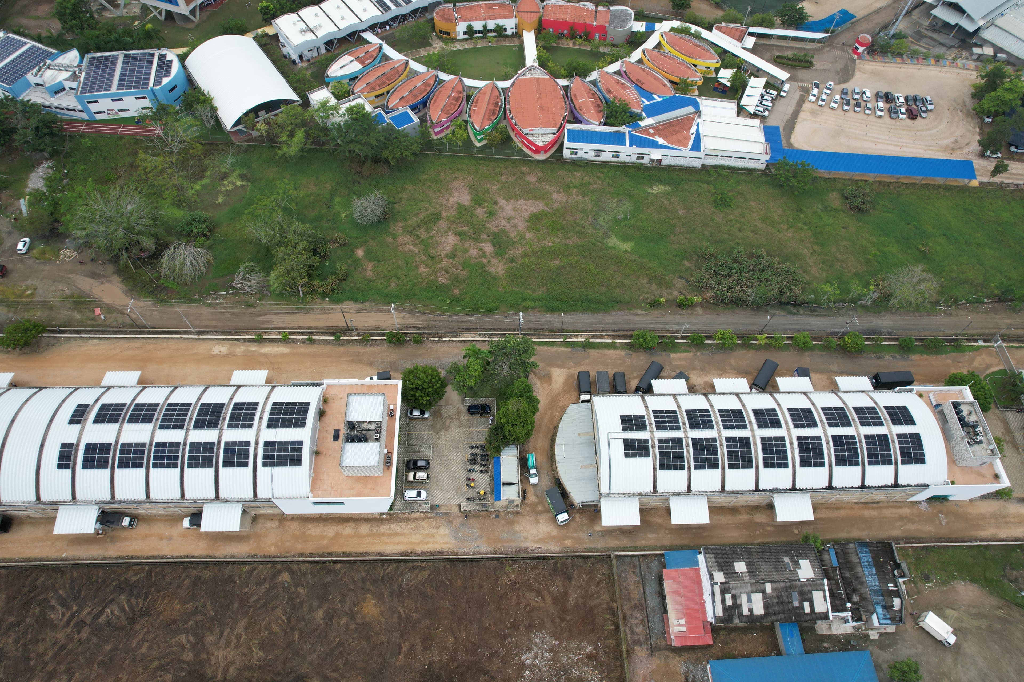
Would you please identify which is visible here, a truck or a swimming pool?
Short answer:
truck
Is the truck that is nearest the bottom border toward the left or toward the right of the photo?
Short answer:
right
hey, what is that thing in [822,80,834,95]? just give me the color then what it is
white vehicle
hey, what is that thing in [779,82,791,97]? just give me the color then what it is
white vehicle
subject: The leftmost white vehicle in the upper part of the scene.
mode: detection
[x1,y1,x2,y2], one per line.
[16,239,31,255]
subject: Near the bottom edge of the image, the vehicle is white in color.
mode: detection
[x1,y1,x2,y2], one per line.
[917,609,963,650]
